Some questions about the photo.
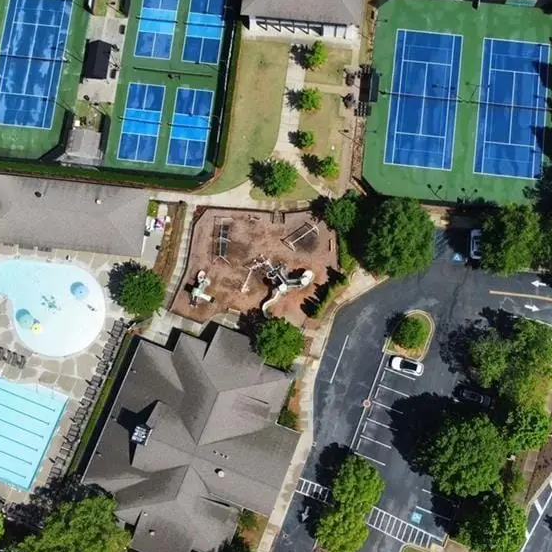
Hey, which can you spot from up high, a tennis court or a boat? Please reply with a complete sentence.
Visible in the photo is a tennis court.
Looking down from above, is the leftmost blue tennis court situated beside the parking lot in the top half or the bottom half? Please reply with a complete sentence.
It is in the top half that the leftmost blue tennis court situated beside the parking lot appears.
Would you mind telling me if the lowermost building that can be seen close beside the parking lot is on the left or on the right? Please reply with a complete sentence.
The lowermost building that can be seen close beside the parking lot sits on the left side.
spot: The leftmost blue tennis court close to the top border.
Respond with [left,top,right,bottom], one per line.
[0,0,74,129]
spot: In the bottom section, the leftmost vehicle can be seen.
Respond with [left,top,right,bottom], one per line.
[390,353,424,376]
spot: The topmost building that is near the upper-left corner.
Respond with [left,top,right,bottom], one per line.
[83,40,115,84]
